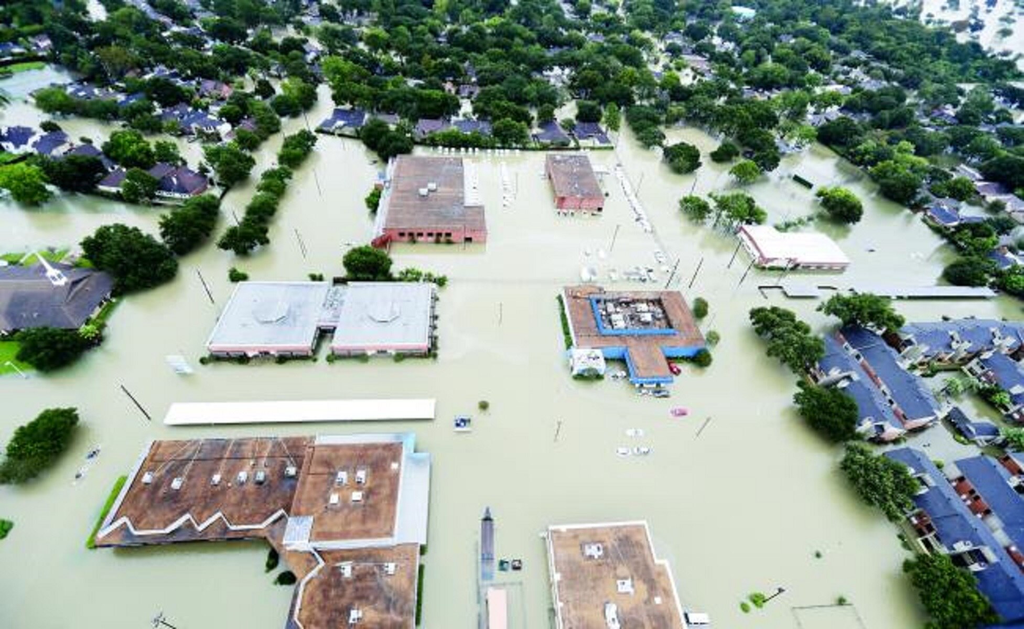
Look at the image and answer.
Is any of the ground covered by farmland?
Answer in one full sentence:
No, the picture contains no farmland.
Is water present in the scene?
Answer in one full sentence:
Yes, there's water in this view.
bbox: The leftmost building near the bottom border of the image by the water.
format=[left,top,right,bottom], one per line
[86,429,431,629]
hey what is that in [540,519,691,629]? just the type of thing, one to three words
building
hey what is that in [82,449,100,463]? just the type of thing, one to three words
car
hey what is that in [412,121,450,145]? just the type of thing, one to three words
house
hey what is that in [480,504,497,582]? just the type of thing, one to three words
trailer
